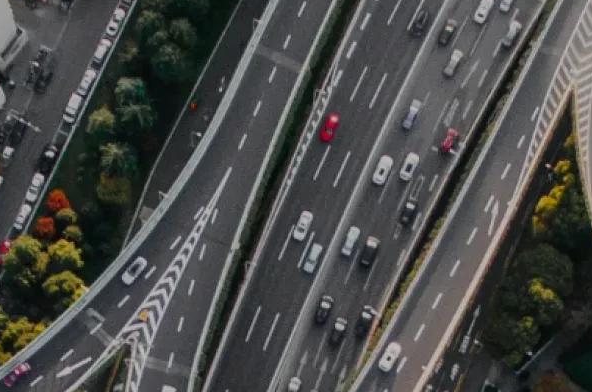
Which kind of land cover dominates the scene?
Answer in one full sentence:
The bulk of the photo consists of paved ground.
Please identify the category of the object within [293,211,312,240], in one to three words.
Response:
car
